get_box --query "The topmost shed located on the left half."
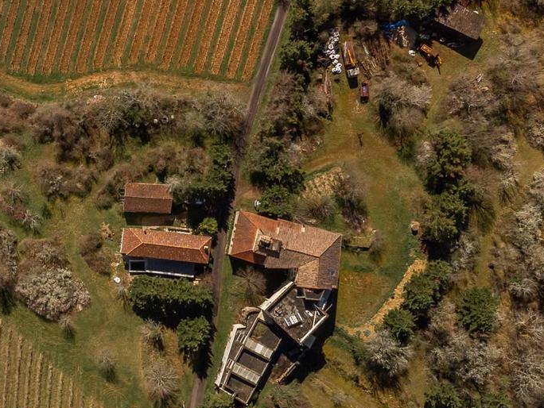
[123,181,172,214]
